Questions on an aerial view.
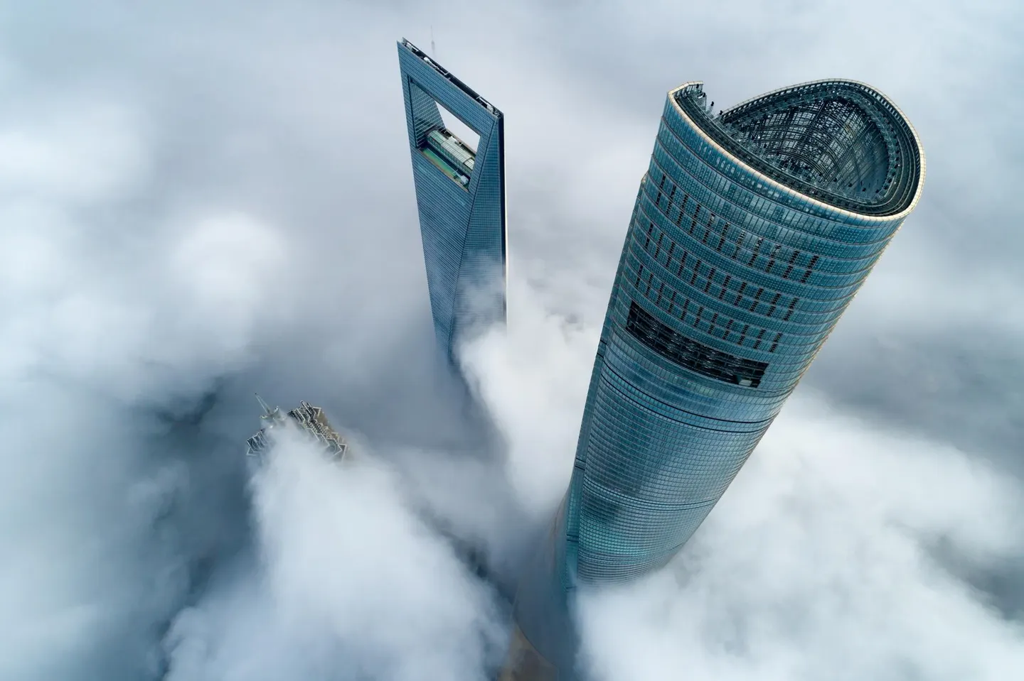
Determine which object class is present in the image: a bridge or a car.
bridge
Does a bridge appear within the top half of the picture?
Yes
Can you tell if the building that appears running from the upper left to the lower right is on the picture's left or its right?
left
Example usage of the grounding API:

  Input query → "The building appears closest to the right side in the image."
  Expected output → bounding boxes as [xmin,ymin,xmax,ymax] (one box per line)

[520,76,924,671]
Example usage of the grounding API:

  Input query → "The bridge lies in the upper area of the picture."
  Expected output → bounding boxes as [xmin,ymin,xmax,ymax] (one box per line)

[427,123,477,171]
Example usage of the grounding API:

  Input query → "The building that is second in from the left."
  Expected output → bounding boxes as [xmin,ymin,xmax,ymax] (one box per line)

[396,39,506,483]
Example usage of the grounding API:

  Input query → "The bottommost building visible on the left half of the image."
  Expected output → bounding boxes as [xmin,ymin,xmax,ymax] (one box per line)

[239,388,420,624]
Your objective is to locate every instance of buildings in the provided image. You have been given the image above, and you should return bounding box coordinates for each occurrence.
[239,388,420,624]
[520,76,924,671]
[396,39,506,483]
